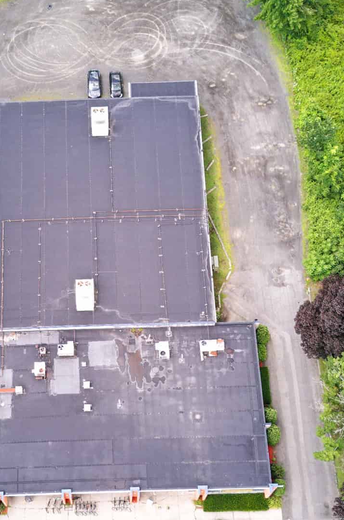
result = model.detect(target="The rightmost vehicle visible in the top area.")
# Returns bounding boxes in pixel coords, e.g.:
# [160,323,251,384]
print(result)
[108,67,124,98]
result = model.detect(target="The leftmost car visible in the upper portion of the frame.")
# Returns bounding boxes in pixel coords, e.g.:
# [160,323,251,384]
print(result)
[86,66,102,99]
